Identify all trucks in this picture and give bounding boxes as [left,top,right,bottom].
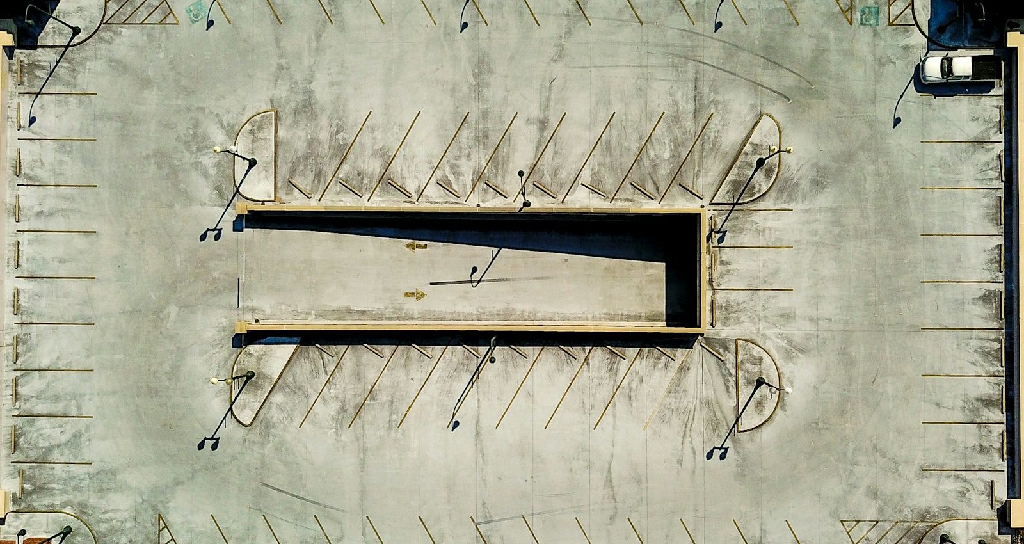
[918,52,1002,86]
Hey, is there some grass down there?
No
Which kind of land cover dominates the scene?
paved ground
